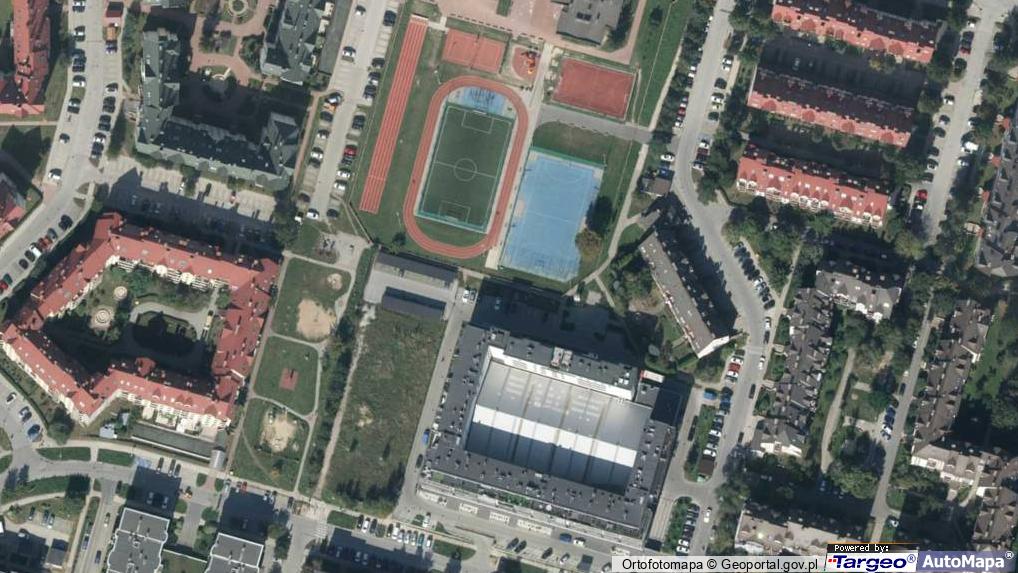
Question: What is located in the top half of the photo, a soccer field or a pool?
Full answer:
The one visible in the top half of the photo is a soccer field.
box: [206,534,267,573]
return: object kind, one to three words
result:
building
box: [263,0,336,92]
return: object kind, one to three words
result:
house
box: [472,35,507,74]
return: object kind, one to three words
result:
tennis court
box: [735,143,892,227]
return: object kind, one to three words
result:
house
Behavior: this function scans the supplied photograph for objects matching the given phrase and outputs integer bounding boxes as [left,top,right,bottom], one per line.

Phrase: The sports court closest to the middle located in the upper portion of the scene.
[500,146,605,283]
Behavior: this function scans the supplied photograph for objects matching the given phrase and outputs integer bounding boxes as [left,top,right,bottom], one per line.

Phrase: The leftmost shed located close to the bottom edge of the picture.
[47,546,68,569]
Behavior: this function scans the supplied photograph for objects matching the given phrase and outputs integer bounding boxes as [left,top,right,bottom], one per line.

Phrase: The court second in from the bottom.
[552,57,635,118]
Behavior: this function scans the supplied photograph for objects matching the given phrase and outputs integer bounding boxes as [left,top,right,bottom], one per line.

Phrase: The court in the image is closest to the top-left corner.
[442,28,477,67]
